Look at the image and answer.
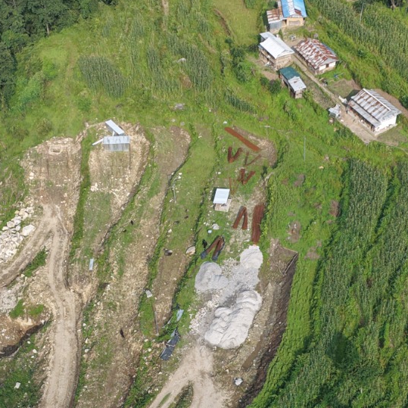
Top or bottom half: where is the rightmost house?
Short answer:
top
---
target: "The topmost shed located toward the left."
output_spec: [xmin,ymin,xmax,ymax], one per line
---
[103,136,129,151]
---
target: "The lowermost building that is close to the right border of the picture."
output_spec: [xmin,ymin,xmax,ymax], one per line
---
[351,88,401,129]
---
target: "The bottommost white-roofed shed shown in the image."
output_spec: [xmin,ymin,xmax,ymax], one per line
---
[211,188,229,214]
